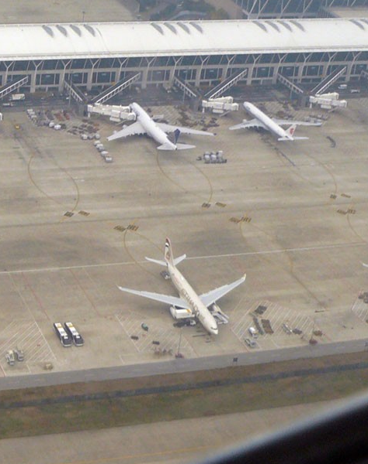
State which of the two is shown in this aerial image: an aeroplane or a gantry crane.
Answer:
aeroplane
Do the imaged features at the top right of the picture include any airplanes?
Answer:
Yes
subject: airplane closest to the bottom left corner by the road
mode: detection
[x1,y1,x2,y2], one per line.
[110,234,246,332]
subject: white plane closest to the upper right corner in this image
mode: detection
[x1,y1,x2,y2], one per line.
[227,103,326,142]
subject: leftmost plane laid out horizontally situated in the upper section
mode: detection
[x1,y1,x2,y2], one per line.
[102,102,216,149]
